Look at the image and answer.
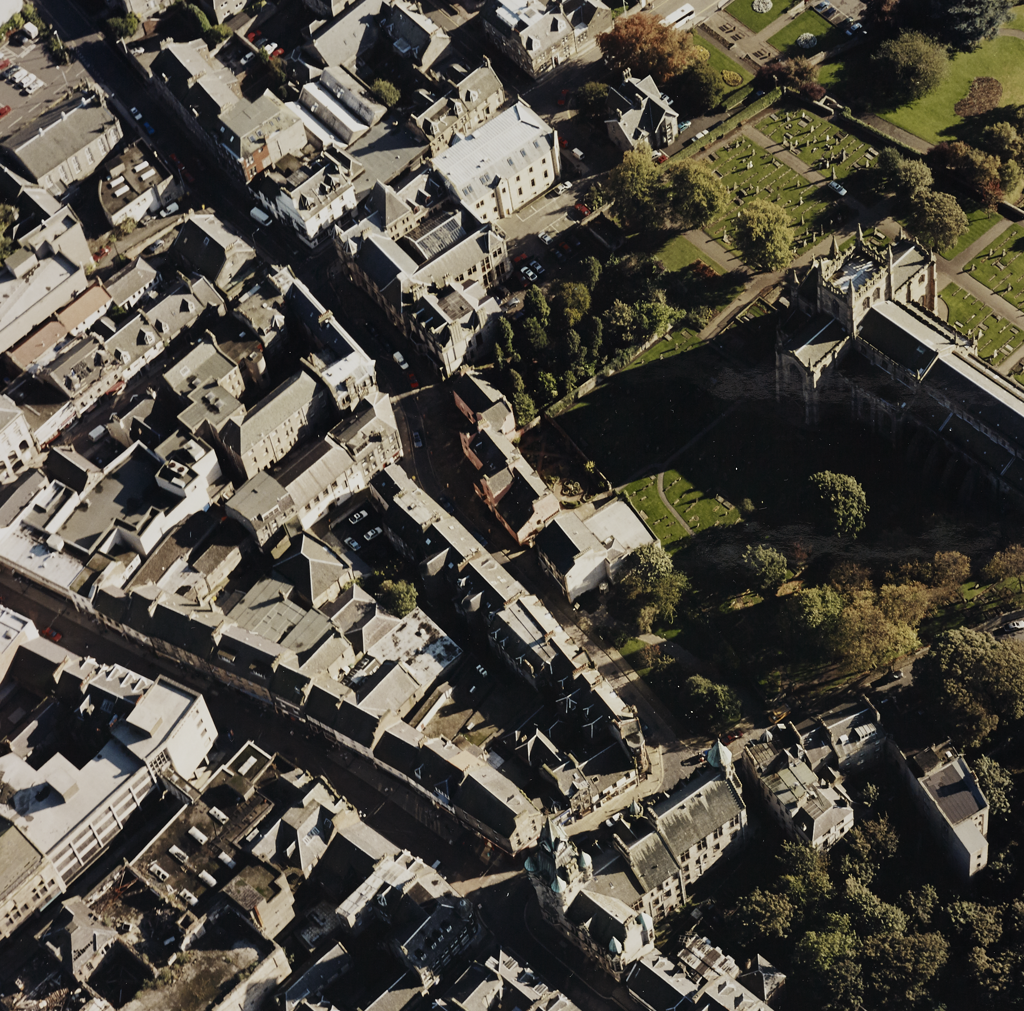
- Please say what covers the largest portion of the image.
buildings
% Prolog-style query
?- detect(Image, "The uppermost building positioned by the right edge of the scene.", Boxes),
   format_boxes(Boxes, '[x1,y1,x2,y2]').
[771,228,1024,559]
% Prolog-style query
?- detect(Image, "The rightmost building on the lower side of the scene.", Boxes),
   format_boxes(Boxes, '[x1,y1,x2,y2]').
[913,751,989,870]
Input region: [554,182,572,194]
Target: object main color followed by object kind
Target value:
white vehicle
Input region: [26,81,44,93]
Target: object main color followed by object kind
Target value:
white vehicle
